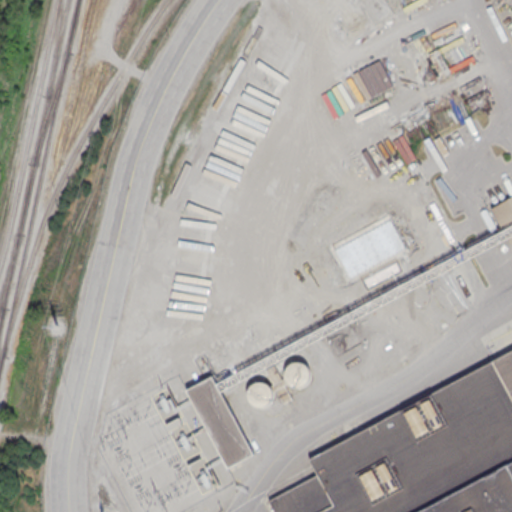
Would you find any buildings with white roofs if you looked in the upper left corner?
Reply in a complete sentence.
No, looking in the upper left corner, there is no building with a white roof.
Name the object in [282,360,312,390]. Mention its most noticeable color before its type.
white storage tank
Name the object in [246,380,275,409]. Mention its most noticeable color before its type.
white storage tank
